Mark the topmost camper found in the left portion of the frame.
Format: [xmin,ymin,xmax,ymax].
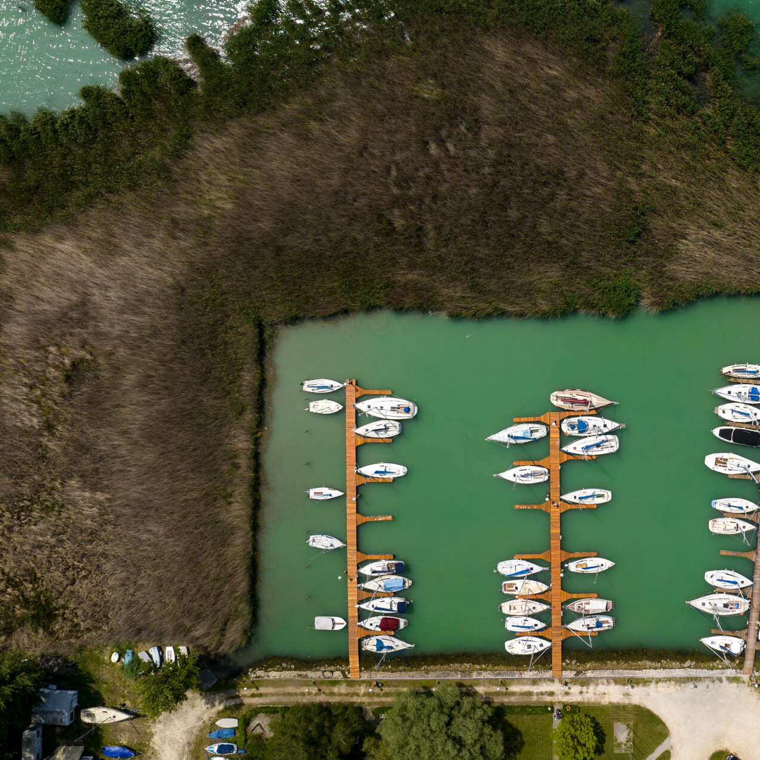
[35,696,80,722]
